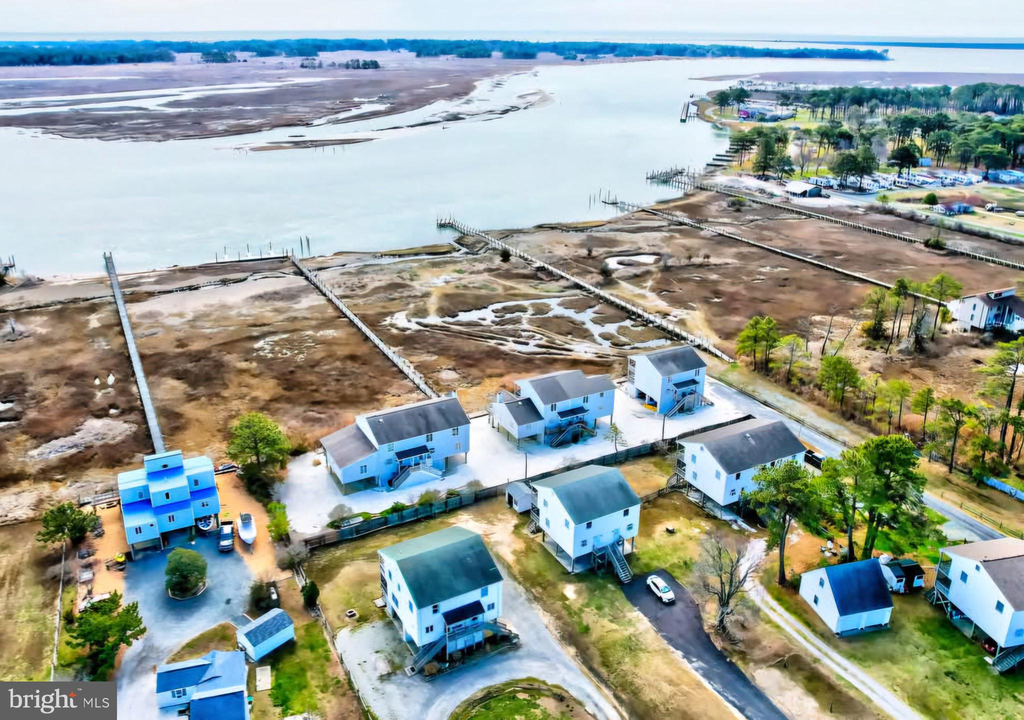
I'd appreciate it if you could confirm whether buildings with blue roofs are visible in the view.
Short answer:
Yes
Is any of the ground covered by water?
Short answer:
Yes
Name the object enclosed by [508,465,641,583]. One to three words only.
house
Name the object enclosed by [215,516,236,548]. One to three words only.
truck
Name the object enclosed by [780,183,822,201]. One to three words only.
building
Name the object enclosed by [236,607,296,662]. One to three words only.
shed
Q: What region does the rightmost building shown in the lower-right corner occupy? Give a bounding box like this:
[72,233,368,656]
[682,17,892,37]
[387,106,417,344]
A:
[914,537,1024,679]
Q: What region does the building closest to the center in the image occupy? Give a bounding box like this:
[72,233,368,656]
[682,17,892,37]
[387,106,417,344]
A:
[489,369,617,452]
